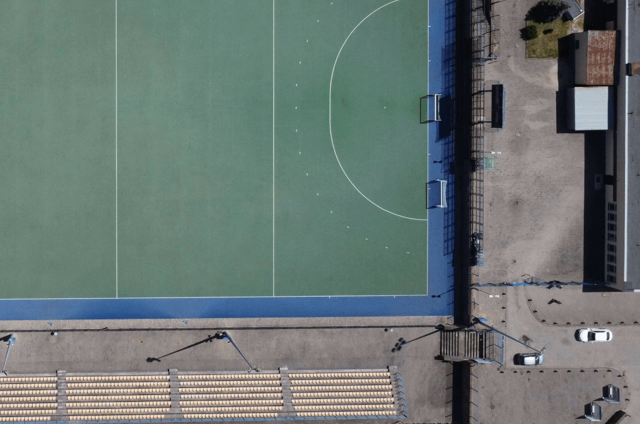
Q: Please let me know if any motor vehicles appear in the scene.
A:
Yes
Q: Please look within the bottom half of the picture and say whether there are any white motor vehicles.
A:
Yes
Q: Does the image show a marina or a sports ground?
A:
sports ground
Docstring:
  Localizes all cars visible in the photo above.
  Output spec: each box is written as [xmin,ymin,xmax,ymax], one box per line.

[581,328,615,345]
[516,353,545,369]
